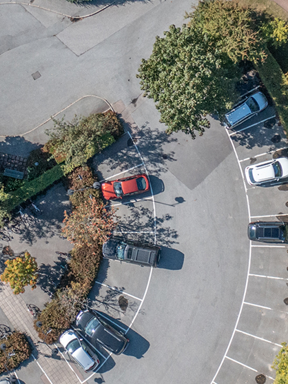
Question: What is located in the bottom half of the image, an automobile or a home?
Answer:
automobile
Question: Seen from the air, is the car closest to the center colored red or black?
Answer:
red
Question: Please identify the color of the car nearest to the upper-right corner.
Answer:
blue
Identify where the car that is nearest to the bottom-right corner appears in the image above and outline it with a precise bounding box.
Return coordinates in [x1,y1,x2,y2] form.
[247,221,288,246]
